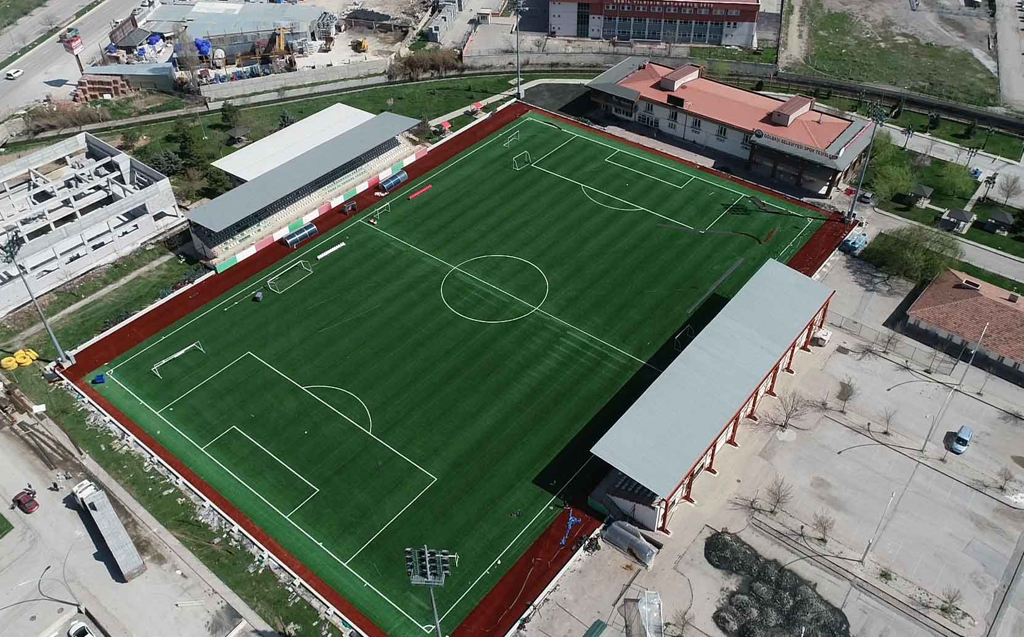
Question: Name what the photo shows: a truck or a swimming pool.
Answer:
truck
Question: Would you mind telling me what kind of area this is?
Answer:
sports ground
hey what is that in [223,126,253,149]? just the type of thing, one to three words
gazebo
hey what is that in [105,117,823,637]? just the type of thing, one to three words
sports field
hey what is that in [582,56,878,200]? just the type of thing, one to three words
building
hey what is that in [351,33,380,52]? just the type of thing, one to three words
work vehicle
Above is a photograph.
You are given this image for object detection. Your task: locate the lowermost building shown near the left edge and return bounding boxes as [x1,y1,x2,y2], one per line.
[0,129,186,320]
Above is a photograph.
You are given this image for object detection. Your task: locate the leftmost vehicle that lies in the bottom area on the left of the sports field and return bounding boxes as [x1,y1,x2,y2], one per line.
[10,493,41,515]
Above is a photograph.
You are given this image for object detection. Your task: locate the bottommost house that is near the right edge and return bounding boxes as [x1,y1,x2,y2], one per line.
[897,269,1024,384]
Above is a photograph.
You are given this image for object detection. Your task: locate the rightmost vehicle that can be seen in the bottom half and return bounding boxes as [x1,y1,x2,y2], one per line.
[952,422,975,452]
